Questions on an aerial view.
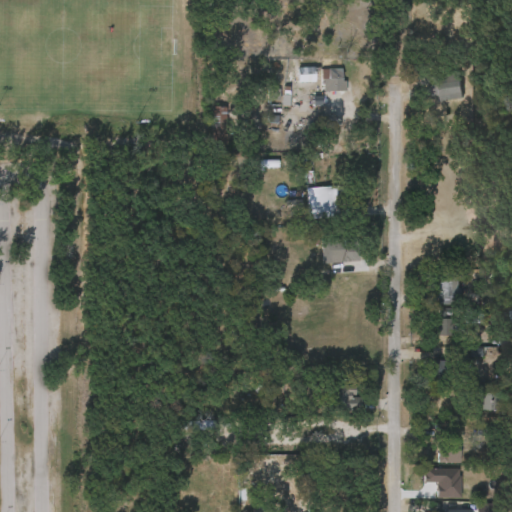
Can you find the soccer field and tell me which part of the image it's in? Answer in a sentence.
The soccer field is located in the top left region of the scene.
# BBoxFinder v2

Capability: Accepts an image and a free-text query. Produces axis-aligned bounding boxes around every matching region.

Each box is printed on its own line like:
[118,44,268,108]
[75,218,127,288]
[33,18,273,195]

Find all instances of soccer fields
[0,0,174,111]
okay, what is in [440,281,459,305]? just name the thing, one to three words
house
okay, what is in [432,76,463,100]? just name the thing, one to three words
house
